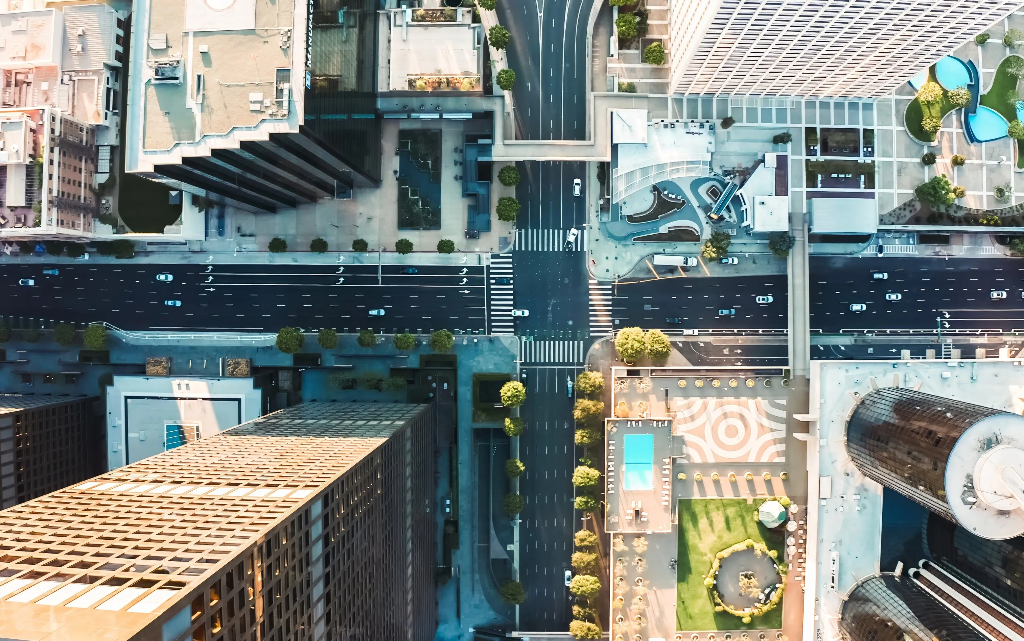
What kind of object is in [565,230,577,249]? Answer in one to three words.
vehicle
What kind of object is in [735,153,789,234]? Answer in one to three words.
building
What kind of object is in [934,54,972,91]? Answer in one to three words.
swimming pool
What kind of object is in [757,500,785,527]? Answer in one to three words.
gazebo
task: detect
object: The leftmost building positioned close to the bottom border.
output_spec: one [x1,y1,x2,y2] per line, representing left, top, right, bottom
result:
[0,401,438,641]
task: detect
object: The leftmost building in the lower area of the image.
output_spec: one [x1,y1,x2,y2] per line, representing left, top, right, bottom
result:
[0,395,104,504]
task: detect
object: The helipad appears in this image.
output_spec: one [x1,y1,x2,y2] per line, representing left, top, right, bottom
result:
[187,0,258,31]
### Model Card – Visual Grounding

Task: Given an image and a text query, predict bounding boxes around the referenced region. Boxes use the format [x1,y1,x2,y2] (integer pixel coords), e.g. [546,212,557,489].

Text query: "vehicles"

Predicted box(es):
[653,255,698,265]
[165,299,181,307]
[41,268,61,276]
[990,291,1006,299]
[876,243,885,259]
[885,293,901,300]
[117,254,133,260]
[872,273,888,279]
[574,179,580,195]
[521,367,528,383]
[566,380,573,398]
[683,329,698,336]
[496,277,511,285]
[850,304,866,311]
[719,308,735,316]
[719,257,738,265]
[564,571,572,587]
[71,253,91,260]
[758,295,774,303]
[401,267,417,274]
[157,274,173,281]
[512,310,528,316]
[367,309,386,316]
[565,230,577,249]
